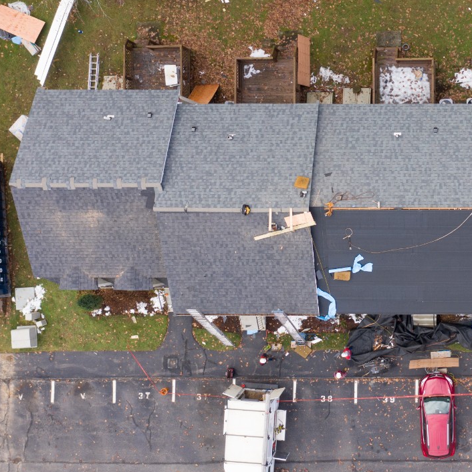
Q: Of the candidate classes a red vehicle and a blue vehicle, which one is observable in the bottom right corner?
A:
red vehicle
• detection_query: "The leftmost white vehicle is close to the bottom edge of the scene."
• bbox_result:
[217,385,290,472]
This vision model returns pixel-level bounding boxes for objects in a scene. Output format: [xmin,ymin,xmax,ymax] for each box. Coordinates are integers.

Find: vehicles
[416,370,459,457]
[217,385,290,472]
